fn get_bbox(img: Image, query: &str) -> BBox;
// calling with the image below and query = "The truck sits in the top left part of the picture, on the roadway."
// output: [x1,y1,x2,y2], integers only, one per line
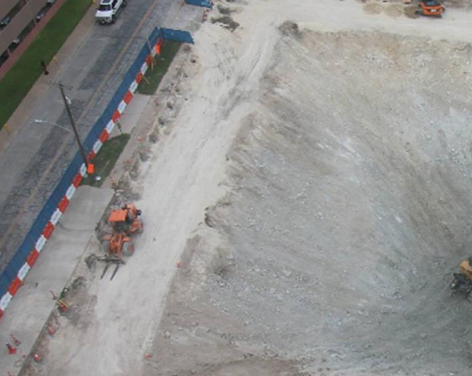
[95,0,128,26]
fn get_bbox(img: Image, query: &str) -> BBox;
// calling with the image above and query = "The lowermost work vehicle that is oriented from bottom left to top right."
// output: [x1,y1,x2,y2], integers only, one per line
[93,207,146,277]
